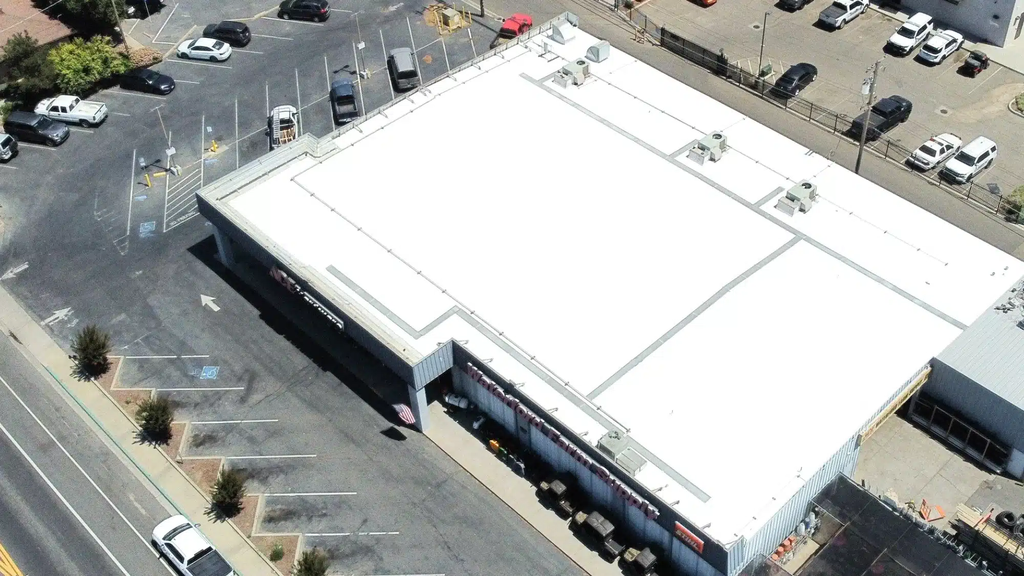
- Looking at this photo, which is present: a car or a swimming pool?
car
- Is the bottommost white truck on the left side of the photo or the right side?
left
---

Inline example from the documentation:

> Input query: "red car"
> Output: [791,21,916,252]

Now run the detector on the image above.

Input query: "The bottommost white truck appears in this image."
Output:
[154,516,242,576]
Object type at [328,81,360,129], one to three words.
truck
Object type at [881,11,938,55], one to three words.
car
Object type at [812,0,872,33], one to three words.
truck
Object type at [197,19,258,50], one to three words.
car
